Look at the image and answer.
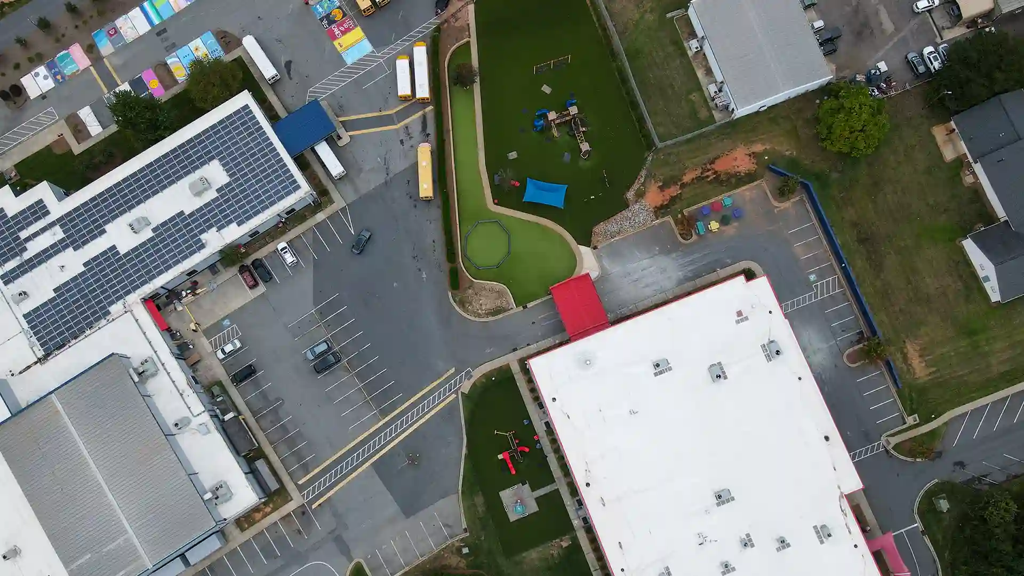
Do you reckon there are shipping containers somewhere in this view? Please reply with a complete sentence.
Yes, there is a shipping container in the image.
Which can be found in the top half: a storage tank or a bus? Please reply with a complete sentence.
What appears in the top half is a bus.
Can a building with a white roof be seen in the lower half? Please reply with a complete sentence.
Yes, in the lower half there is a building with a white roof.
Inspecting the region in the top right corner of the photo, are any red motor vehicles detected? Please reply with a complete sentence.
No, I see no red motor vehicle in the top right corner of the photo.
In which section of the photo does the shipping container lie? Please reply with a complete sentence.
Look in the bottom left portion of the view to spot the shipping container.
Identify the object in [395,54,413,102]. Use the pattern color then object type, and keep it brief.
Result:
white vehicle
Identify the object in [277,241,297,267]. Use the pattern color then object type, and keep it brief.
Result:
white car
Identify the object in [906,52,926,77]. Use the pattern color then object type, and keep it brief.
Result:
gray car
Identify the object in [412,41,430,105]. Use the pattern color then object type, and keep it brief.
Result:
white vehicle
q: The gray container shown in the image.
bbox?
[255,458,283,491]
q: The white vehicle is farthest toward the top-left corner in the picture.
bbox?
[240,33,283,87]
